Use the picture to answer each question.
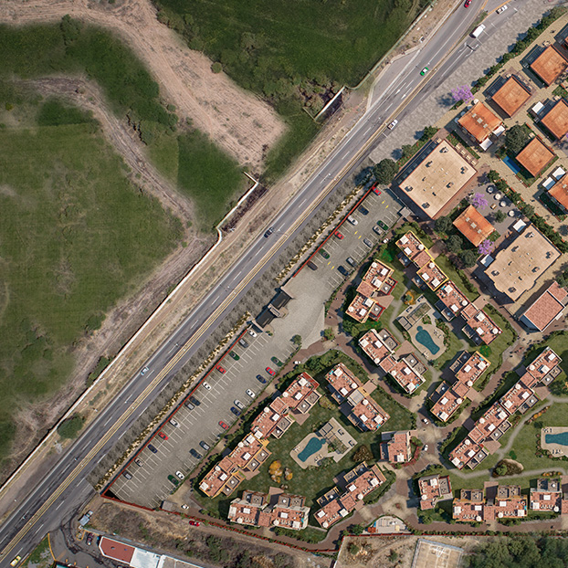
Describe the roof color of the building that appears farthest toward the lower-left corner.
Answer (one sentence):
The color of the roof on the building that appears farthest toward the lower-left corner is red.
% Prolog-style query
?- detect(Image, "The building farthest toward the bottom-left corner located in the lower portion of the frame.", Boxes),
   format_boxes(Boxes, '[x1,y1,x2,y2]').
[99,533,140,564]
